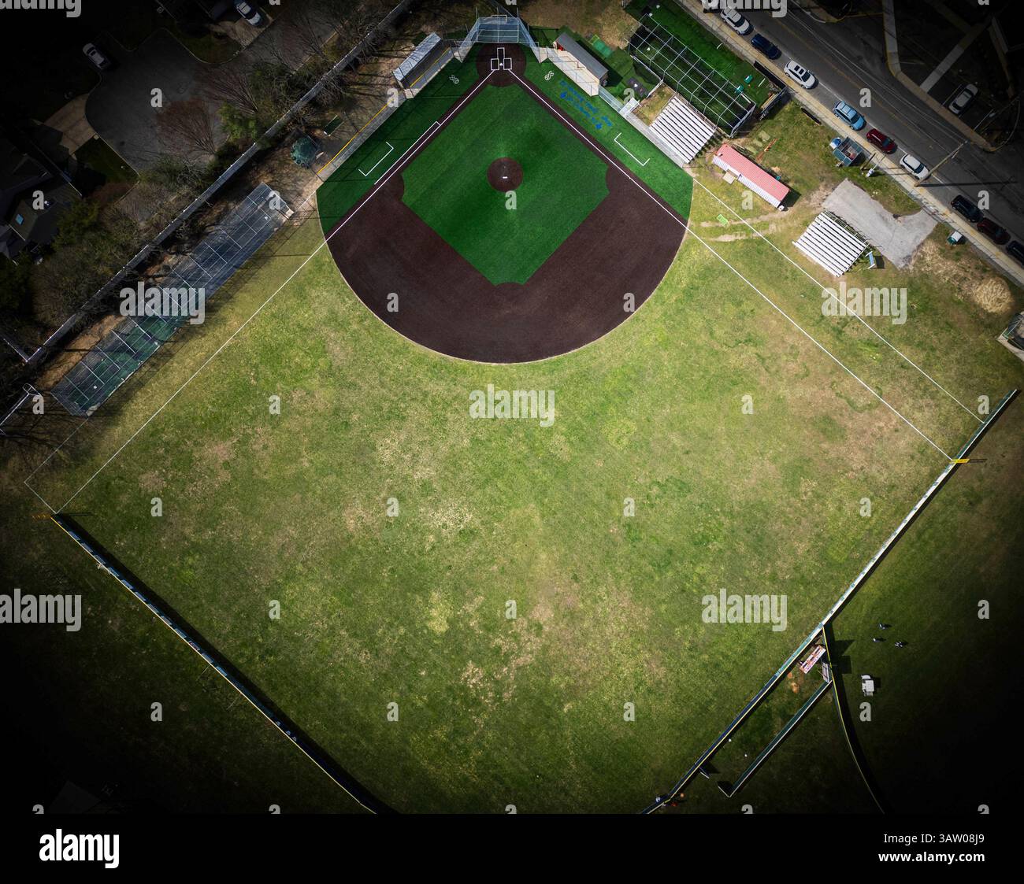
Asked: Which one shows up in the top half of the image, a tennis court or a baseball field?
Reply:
baseball field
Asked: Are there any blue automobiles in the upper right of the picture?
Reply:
Yes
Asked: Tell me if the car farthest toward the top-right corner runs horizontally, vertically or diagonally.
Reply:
diagonally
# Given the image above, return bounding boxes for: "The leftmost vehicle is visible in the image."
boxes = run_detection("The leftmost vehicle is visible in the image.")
[86,42,109,71]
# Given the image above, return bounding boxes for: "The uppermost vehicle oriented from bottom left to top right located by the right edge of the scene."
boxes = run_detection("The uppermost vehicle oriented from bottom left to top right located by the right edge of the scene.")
[949,84,977,114]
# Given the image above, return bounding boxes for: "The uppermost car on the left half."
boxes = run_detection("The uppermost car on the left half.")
[235,0,261,28]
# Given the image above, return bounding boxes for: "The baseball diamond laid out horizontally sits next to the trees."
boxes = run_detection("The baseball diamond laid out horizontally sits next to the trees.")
[24,42,983,513]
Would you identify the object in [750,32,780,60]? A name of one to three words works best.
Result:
car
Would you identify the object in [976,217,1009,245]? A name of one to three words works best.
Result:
car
